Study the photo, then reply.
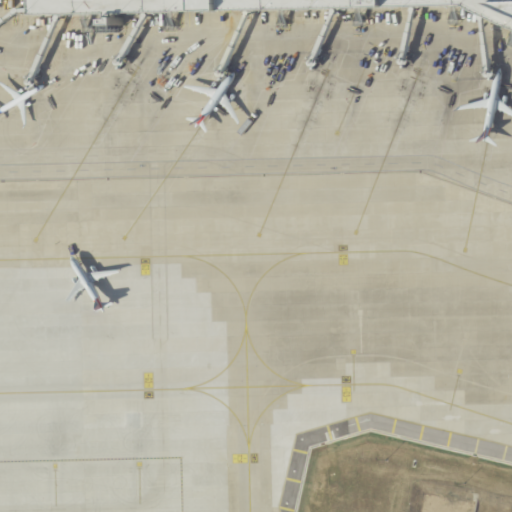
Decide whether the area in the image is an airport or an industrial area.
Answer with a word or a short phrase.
airport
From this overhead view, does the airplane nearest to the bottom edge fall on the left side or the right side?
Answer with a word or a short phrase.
left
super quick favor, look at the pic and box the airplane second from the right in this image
[186,74,236,134]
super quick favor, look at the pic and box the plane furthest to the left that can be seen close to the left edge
[0,78,44,126]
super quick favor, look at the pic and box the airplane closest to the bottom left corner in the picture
[65,256,114,318]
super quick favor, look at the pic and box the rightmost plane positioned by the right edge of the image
[454,70,512,144]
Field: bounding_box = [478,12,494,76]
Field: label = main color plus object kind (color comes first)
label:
white jet bridge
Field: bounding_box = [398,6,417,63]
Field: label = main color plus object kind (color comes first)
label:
white jet bridge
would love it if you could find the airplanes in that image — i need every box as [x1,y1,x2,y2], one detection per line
[65,256,114,318]
[0,78,44,126]
[186,74,236,134]
[454,70,512,144]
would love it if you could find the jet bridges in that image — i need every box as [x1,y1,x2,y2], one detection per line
[478,12,494,76]
[398,6,417,63]
[25,14,62,83]
[115,14,150,64]
[308,8,338,64]
[220,10,252,74]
